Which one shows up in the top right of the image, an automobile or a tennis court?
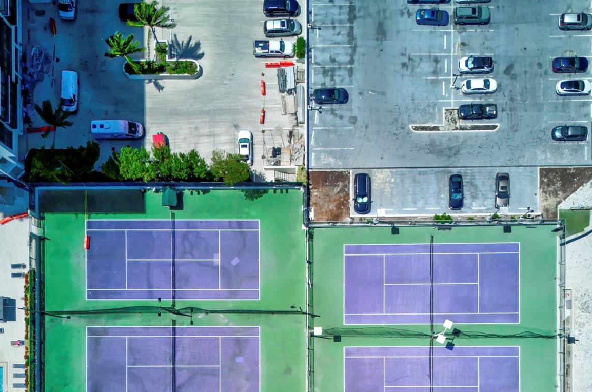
automobile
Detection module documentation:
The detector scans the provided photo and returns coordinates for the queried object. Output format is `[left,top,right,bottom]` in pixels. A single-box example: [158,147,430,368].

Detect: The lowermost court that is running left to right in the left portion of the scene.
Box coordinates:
[86,318,260,392]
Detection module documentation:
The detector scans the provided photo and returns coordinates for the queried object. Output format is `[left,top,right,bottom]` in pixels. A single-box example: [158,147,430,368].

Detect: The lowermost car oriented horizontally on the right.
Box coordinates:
[550,124,588,142]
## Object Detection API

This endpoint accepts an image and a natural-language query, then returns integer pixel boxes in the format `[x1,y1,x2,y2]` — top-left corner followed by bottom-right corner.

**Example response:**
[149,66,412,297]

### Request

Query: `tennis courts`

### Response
[344,338,520,392]
[86,318,260,392]
[343,234,520,331]
[86,210,260,308]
